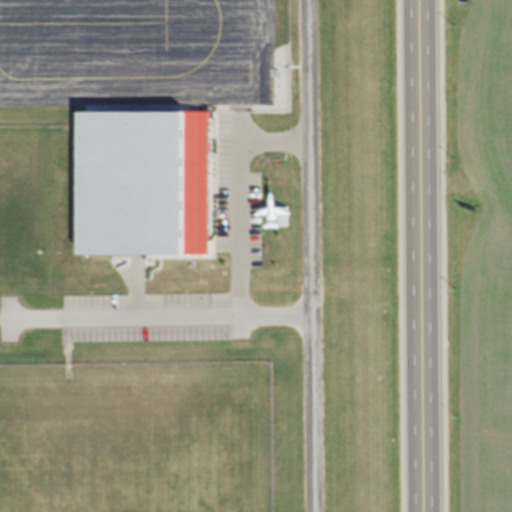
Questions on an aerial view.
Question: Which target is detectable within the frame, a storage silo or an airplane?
airplane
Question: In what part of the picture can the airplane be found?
center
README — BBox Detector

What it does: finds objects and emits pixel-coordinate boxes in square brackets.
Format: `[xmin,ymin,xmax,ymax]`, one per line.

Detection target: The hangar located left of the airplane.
[74,110,209,258]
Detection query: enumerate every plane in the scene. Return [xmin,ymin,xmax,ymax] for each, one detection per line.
[252,191,290,232]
